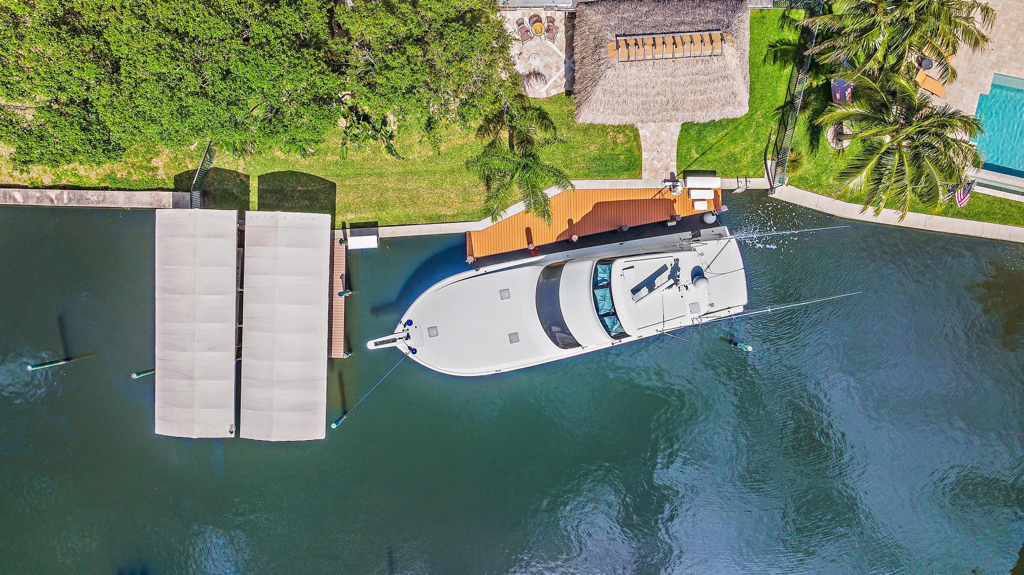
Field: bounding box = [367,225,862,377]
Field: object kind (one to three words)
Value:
boat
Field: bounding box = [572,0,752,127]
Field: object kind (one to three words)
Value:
shed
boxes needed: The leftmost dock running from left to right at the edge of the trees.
[467,190,722,258]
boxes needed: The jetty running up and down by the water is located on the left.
[328,238,347,357]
